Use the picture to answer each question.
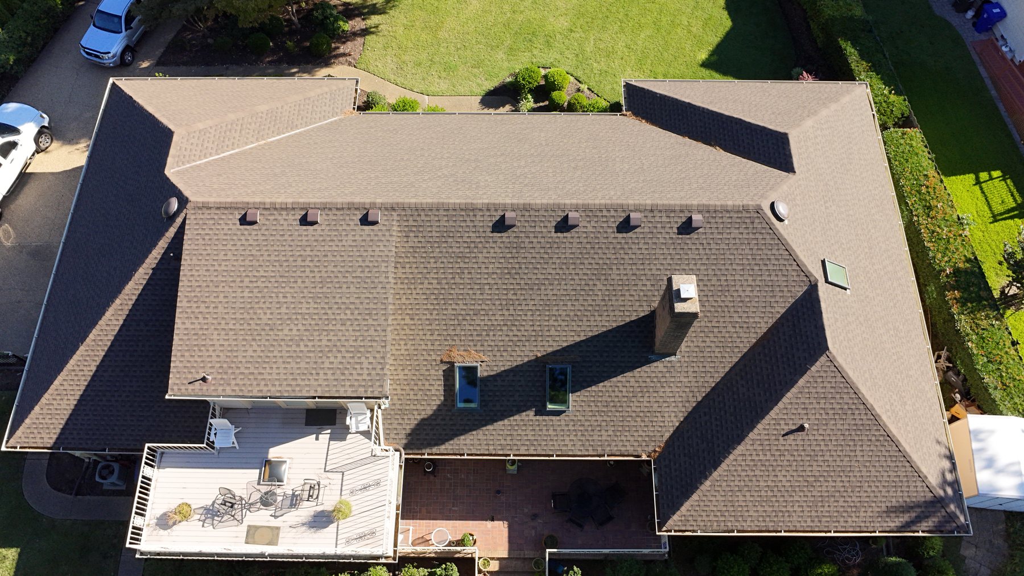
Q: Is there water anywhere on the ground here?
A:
No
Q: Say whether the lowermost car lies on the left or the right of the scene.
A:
left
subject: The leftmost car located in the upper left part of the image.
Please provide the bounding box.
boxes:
[0,100,51,206]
